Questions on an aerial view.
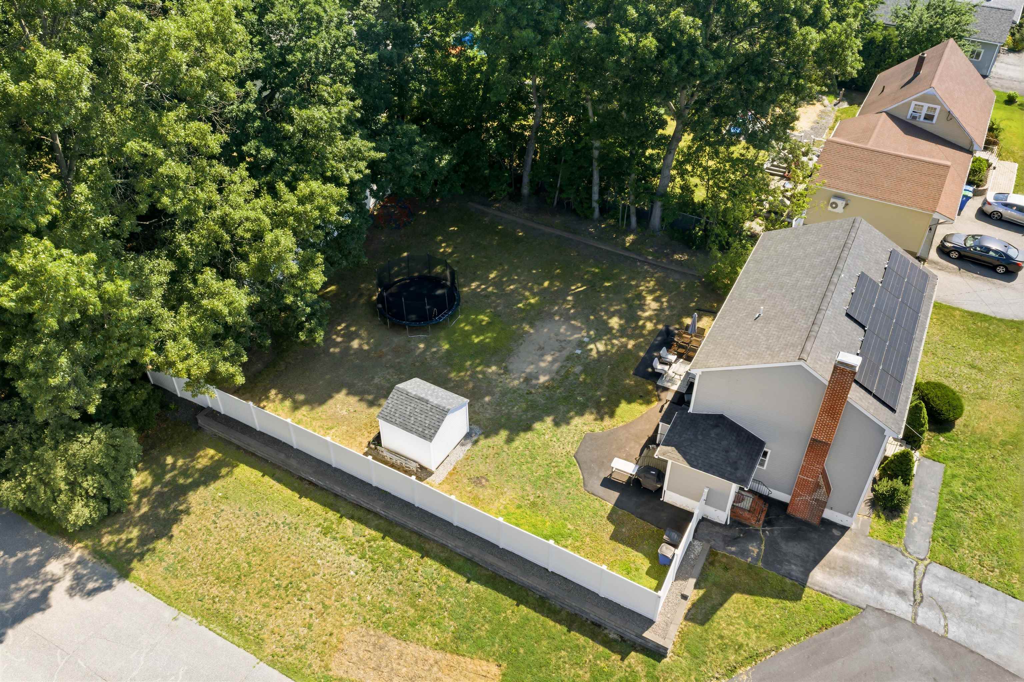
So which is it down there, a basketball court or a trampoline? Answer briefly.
trampoline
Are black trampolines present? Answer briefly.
Yes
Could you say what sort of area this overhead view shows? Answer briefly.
residential area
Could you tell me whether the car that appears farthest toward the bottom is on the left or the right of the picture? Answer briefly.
right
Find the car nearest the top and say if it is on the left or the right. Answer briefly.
right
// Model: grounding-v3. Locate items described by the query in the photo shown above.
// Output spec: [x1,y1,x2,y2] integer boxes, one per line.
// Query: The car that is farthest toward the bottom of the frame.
[939,231,1024,273]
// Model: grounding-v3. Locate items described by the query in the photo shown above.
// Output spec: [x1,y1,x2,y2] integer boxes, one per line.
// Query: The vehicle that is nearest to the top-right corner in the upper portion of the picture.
[982,193,1024,226]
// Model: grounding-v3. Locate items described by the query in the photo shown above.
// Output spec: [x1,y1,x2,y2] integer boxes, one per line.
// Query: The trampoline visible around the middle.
[372,250,462,338]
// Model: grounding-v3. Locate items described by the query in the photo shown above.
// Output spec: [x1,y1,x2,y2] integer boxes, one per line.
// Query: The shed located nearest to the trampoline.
[375,379,471,471]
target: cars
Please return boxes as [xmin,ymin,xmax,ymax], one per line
[939,231,1024,273]
[982,193,1024,226]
